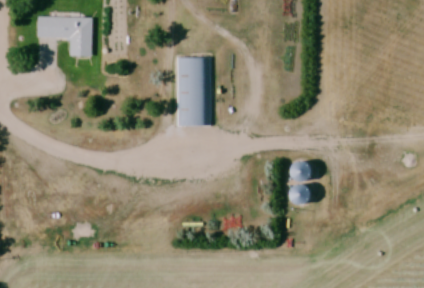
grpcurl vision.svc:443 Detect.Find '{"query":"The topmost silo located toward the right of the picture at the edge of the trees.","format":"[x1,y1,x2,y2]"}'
[289,159,313,182]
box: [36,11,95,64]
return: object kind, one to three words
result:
house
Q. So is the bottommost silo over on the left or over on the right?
right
